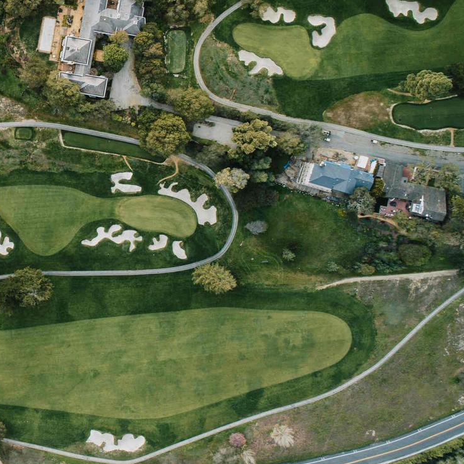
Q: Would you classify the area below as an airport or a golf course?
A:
golf course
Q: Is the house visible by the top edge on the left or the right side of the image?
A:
left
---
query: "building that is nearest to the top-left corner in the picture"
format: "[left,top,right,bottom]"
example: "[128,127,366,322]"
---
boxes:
[60,0,146,96]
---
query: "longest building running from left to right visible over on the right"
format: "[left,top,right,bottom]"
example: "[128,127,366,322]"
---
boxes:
[308,162,374,195]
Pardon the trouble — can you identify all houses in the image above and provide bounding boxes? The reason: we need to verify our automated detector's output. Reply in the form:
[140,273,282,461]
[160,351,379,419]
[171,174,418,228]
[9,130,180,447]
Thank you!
[308,162,374,195]
[379,162,447,217]
[60,0,146,96]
